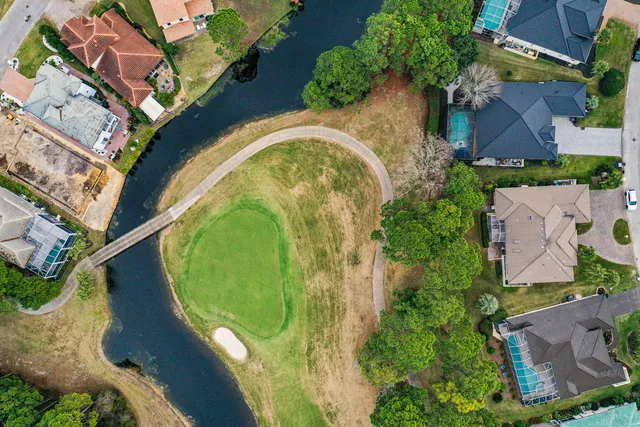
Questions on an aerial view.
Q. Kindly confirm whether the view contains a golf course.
Yes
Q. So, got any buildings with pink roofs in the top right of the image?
No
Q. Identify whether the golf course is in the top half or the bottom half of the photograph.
bottom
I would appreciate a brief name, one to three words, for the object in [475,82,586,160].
house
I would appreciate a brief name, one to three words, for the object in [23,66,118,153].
house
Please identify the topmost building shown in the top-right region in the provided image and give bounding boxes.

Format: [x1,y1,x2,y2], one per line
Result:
[502,0,608,66]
